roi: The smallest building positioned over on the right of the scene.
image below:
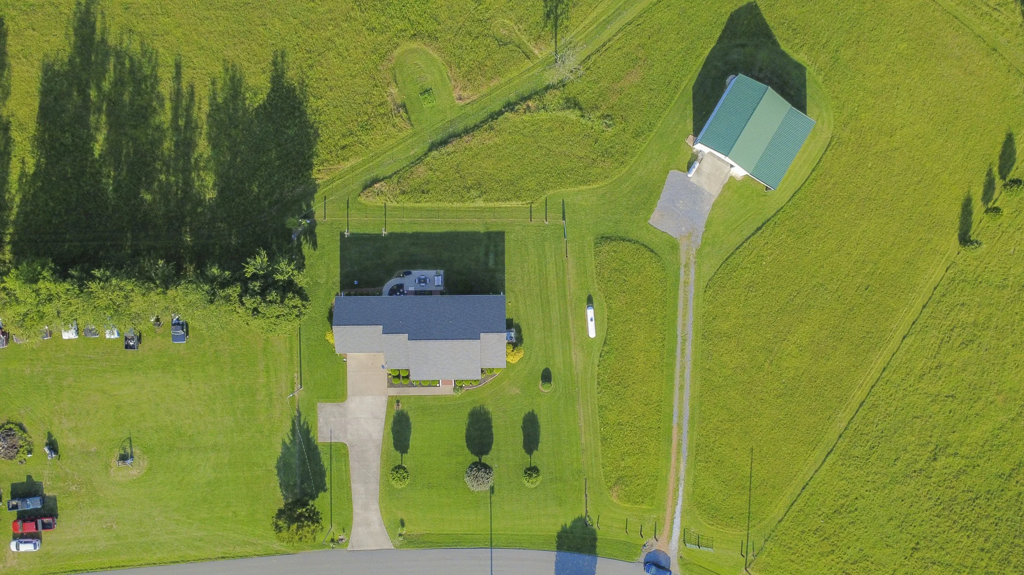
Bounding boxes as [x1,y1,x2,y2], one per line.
[691,73,816,191]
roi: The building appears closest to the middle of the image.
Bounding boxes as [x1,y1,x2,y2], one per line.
[332,290,506,389]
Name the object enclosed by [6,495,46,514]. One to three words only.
vehicle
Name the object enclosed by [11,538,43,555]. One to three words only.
car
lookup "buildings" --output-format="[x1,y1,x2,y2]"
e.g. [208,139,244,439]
[332,290,506,389]
[691,73,816,191]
